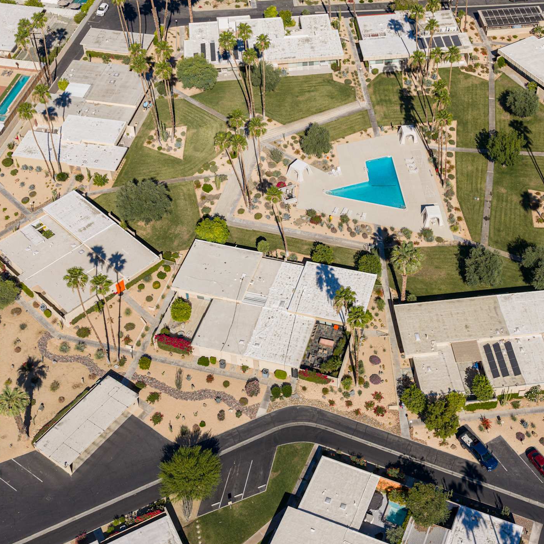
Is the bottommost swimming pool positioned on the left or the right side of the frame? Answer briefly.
right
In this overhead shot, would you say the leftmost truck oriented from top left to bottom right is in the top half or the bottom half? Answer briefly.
bottom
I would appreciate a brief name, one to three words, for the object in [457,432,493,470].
truck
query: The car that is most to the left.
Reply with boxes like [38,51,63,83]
[95,0,111,15]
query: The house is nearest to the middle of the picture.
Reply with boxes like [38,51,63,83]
[155,239,377,375]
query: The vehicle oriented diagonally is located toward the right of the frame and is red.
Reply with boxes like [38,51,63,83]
[525,449,544,478]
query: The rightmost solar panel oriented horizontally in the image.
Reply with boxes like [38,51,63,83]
[483,8,542,25]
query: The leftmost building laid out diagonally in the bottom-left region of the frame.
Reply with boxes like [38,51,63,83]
[36,370,139,472]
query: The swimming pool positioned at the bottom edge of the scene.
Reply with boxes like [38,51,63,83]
[382,498,411,527]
